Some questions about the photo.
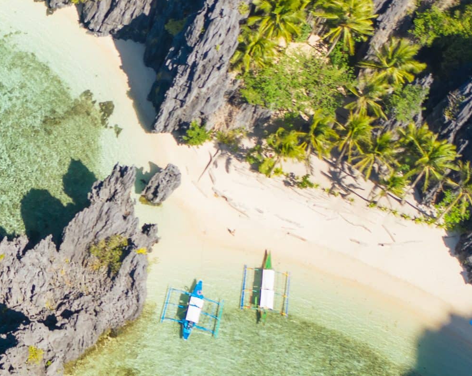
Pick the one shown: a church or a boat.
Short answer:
boat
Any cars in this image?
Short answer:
No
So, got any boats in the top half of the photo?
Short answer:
No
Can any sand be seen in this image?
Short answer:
Yes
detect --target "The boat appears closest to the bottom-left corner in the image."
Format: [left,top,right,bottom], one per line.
[159,279,228,344]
